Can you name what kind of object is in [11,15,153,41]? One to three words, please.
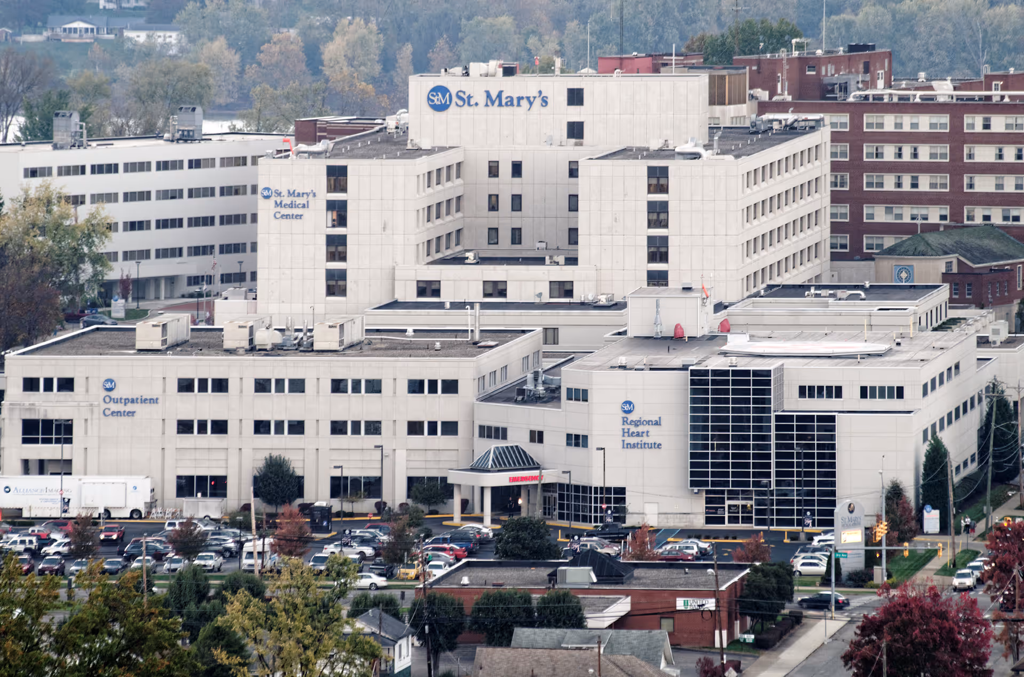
house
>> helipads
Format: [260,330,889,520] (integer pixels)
[720,334,891,362]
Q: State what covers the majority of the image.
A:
buildings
